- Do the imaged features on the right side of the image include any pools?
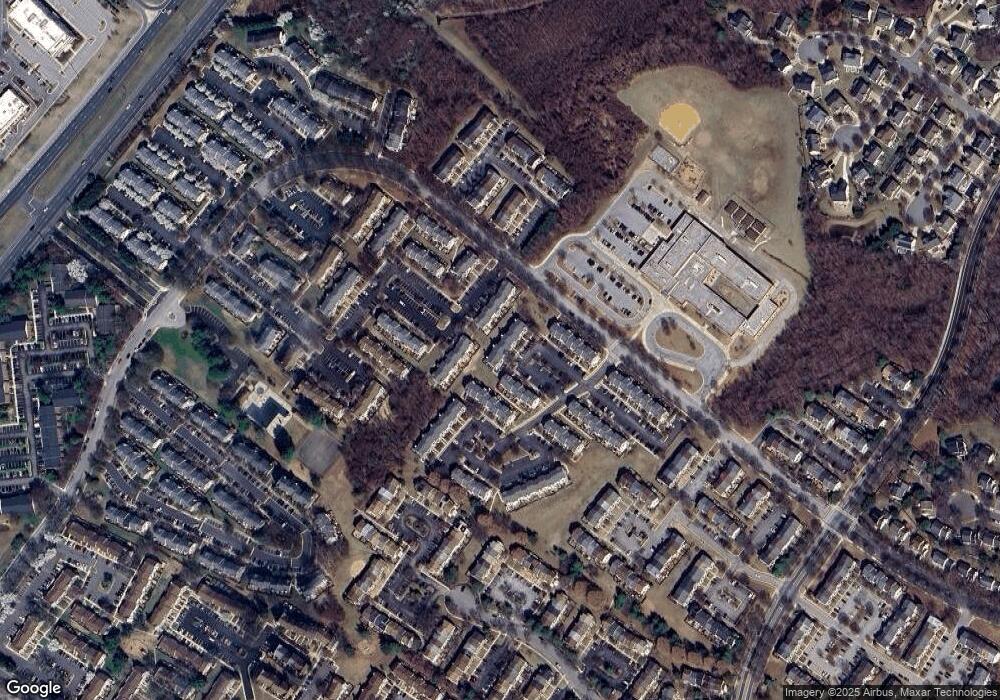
No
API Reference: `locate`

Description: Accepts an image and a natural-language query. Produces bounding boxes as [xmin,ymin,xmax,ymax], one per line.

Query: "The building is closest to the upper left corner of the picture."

[9,0,77,58]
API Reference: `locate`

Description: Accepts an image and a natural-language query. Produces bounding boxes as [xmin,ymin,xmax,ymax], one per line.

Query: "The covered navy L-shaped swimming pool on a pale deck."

[242,380,296,438]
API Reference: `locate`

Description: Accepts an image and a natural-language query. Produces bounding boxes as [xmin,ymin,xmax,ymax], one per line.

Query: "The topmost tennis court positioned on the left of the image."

[299,430,342,475]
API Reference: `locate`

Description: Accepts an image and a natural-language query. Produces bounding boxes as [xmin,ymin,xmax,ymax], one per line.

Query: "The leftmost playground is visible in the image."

[119,630,155,660]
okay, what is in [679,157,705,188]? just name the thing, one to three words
playground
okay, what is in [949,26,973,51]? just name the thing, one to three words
house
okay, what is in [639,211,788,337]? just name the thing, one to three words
building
